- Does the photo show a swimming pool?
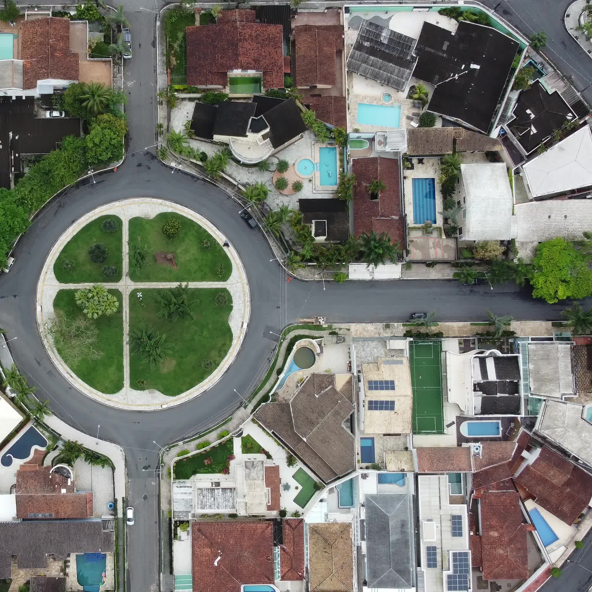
Yes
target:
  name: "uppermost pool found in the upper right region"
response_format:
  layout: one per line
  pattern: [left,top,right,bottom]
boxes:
[524,60,546,80]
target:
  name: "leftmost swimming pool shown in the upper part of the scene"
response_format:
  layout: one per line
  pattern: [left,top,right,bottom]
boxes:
[0,32,14,60]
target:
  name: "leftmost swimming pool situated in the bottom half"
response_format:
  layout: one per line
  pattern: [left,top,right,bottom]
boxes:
[0,424,50,468]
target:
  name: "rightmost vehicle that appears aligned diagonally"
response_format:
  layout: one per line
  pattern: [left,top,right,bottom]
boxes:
[239,209,258,231]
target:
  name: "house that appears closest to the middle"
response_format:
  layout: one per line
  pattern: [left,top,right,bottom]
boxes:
[297,199,349,244]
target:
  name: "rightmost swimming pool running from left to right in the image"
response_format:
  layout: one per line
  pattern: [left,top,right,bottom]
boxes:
[459,420,502,438]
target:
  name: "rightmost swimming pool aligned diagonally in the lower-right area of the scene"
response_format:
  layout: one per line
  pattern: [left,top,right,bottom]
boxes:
[529,506,561,548]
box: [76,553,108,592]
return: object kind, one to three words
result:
swimming pool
